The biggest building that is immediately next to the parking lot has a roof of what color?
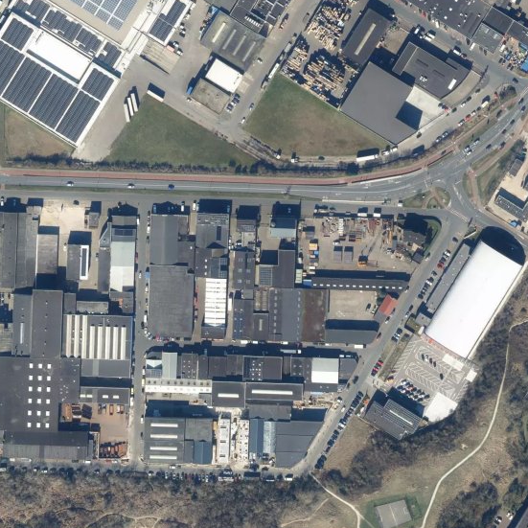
white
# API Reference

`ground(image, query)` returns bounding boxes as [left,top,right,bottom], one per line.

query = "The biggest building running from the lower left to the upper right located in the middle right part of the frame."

[424,239,523,359]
